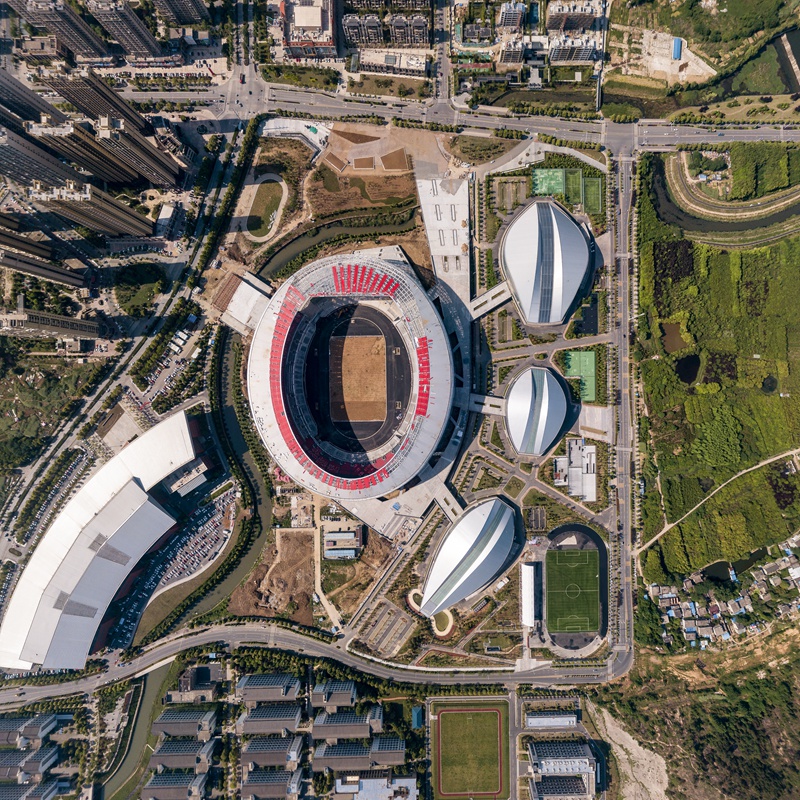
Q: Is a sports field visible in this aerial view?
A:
Yes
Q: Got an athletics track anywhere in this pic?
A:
Yes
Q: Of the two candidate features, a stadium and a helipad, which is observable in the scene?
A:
stadium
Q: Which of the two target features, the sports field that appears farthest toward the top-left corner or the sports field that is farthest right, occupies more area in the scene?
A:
the sports field that is farthest right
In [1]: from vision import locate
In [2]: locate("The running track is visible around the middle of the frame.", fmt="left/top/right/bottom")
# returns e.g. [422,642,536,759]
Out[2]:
[305,303,408,453]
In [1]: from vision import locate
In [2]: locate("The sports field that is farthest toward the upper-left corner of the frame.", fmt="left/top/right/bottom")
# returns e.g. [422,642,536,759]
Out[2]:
[331,336,386,401]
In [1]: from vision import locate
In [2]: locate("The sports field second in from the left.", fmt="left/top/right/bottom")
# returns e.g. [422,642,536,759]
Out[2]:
[430,701,511,800]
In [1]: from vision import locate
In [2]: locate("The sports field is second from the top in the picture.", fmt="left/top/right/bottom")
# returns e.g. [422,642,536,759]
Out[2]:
[536,523,609,661]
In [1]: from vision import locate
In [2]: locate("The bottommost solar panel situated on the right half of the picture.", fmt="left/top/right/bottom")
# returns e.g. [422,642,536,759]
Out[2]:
[537,777,584,796]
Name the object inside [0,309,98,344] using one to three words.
building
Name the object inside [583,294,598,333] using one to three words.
sports court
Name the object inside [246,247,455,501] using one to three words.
stadium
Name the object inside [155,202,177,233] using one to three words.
building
